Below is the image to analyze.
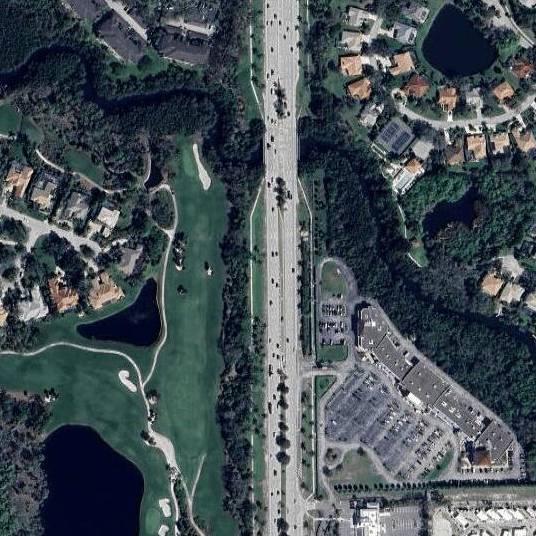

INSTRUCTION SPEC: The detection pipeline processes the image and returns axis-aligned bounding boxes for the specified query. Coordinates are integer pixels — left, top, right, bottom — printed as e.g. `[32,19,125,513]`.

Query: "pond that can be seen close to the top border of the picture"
[423,3,500,78]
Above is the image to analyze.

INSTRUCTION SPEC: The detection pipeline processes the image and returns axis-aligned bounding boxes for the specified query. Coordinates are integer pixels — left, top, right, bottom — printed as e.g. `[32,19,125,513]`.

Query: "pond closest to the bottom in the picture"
[77,276,162,347]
